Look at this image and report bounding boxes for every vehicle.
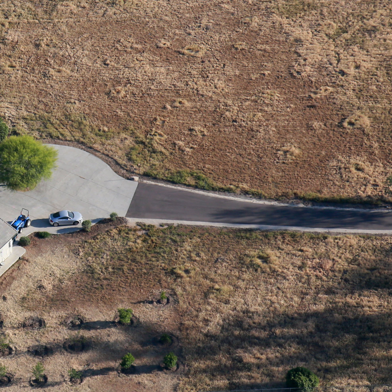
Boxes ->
[11,206,31,238]
[48,208,83,226]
